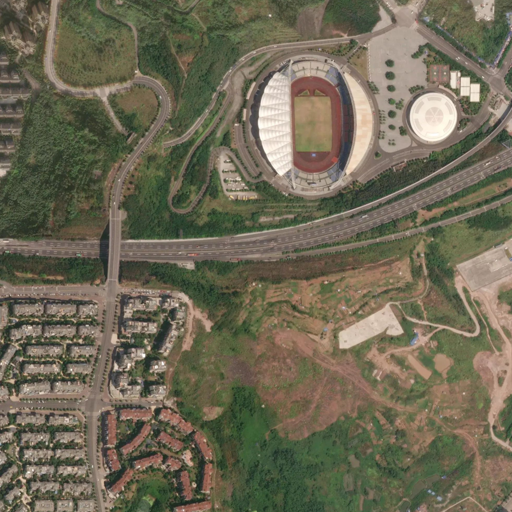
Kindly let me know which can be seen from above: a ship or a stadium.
stadium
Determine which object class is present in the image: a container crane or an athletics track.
athletics track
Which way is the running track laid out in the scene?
up and down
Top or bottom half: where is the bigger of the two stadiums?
top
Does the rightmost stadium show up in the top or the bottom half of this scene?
top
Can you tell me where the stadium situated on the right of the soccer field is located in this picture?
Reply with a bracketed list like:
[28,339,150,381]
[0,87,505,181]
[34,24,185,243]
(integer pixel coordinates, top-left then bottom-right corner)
[400,83,466,150]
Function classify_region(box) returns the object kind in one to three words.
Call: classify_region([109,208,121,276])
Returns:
bridge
